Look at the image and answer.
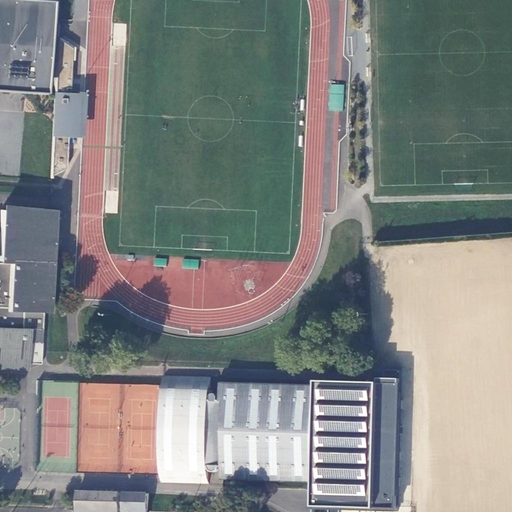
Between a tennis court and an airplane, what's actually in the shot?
tennis court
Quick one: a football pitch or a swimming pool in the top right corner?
football pitch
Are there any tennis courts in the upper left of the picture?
No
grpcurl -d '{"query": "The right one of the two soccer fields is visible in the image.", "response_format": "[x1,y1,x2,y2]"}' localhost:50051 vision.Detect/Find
[372,0,512,195]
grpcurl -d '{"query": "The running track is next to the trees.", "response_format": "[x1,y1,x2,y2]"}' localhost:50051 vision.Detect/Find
[76,0,334,333]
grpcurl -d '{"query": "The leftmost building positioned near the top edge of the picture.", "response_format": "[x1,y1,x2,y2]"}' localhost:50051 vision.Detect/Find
[0,0,64,95]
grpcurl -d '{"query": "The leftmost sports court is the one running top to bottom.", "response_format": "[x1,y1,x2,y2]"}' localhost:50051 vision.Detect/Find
[0,408,20,471]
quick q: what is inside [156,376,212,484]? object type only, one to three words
building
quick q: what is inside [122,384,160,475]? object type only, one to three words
tennis court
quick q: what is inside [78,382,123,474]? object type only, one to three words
tennis court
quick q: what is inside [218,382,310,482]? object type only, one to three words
building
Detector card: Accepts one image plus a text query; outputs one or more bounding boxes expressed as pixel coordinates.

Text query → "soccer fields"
[104,0,312,262]
[372,0,512,195]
